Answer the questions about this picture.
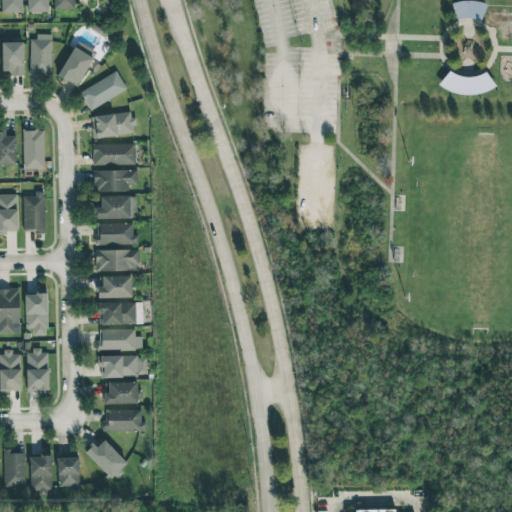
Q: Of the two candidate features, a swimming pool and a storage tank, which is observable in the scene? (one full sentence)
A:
Looking from above, you can make out a swimming pool.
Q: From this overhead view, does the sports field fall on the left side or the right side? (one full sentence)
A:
The sports field sits on the right side.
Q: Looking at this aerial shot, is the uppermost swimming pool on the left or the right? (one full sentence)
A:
The uppermost swimming pool sits on the left side.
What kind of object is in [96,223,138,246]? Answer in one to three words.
house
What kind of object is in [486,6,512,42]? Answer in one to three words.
playground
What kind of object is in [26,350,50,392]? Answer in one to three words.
house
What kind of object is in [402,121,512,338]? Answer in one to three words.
sports field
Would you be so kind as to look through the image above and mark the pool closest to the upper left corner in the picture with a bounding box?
[74,26,109,61]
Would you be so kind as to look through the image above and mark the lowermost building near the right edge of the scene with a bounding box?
[440,70,499,94]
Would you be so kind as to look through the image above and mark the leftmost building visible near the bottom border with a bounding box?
[4,450,26,488]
